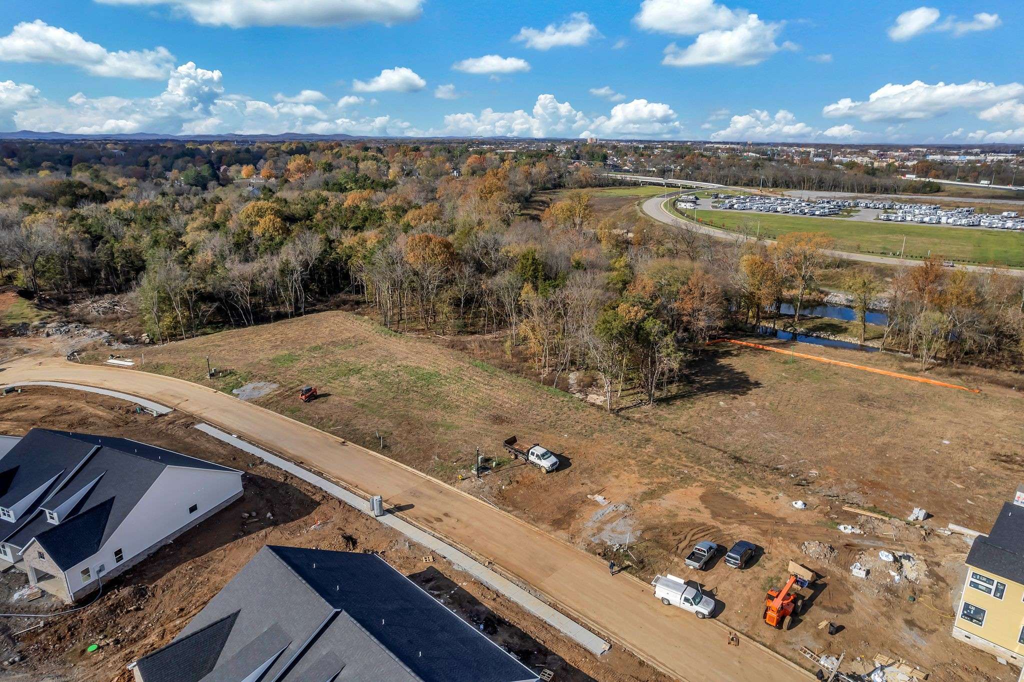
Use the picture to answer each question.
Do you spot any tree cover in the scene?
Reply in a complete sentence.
Yes, tree cover shows up in the scene.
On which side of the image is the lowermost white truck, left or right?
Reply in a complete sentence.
The lowermost white truck is on the right side of the image.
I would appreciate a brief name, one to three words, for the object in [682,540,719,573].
truck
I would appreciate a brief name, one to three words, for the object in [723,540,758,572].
car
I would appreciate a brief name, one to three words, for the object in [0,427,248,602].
house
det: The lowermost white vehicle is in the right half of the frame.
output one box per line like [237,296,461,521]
[643,564,719,616]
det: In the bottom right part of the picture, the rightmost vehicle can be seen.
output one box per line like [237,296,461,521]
[763,556,823,626]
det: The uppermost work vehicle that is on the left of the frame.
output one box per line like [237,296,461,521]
[294,384,319,403]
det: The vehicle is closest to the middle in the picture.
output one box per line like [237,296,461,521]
[504,438,562,476]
